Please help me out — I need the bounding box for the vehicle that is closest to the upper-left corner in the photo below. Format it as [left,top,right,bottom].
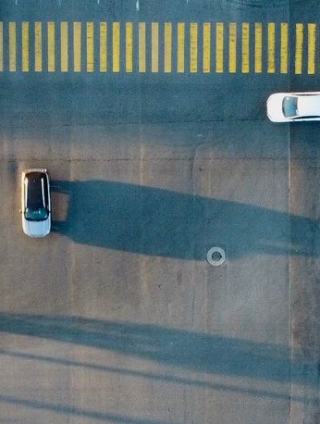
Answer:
[20,170,52,236]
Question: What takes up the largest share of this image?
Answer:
paved ground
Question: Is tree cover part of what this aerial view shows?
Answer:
No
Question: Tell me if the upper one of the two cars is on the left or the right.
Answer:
right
